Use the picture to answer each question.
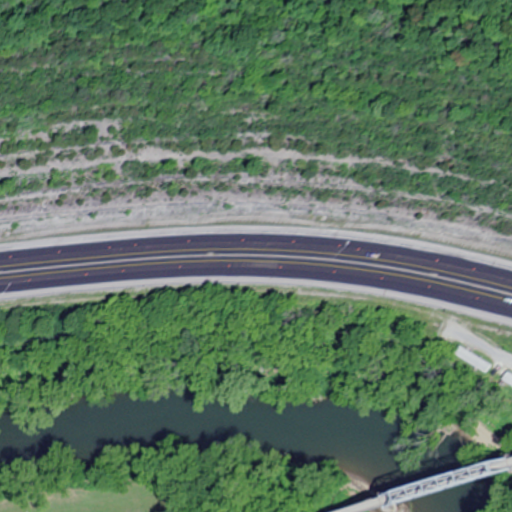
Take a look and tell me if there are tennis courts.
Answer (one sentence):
No, I can't see a single tennis court in this photo.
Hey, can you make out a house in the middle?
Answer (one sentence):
No, looking in the middle, there is no house.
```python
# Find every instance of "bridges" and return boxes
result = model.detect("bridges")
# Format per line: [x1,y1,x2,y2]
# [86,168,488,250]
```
[322,453,512,512]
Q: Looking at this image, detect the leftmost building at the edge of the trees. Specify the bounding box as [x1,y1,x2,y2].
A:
[454,345,492,374]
